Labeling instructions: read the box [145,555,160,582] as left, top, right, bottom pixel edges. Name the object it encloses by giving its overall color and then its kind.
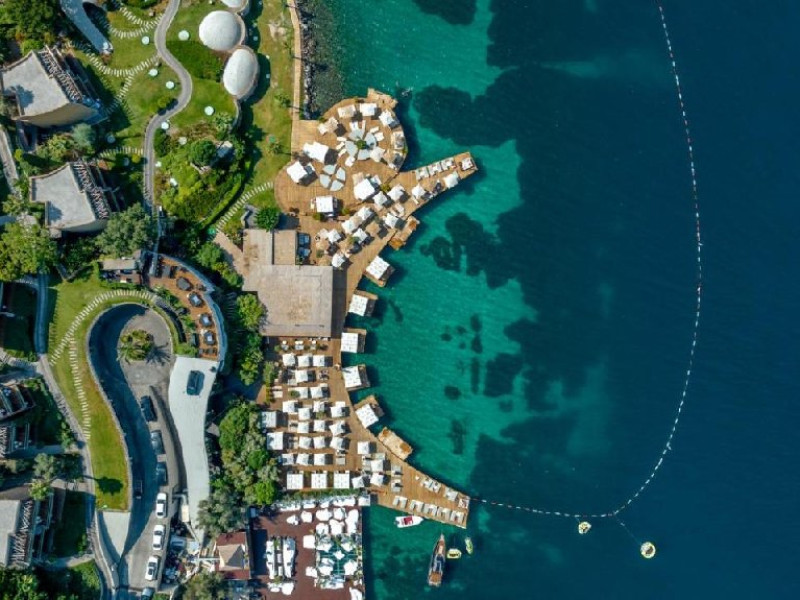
white car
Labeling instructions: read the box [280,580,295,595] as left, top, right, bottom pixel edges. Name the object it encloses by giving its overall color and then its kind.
white umbrella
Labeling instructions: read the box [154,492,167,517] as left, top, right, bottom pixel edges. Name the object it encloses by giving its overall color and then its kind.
white vehicle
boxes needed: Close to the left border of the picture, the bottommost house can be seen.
[0,489,60,570]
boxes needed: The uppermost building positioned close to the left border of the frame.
[1,42,116,127]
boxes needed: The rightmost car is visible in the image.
[188,370,202,396]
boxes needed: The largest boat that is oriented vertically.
[427,537,445,589]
